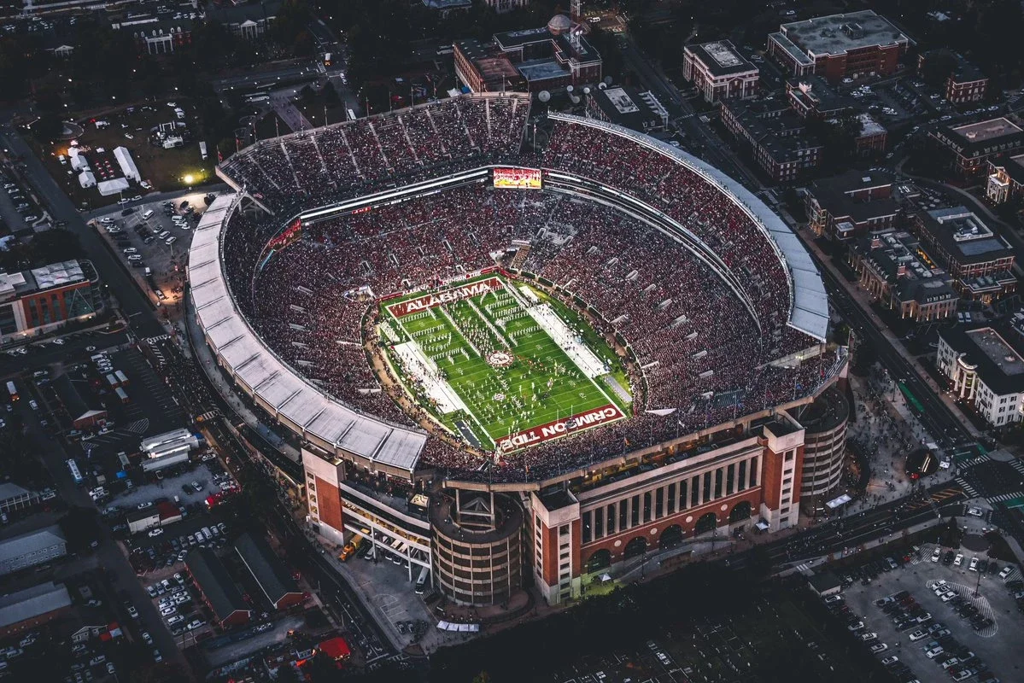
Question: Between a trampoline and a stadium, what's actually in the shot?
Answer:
stadium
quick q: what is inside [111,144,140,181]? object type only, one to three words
tent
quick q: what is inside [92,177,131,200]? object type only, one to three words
tent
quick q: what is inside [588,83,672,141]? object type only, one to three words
building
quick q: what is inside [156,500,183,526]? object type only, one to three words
shed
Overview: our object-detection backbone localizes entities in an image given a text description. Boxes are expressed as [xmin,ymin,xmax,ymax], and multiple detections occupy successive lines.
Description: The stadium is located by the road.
[184,90,855,610]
